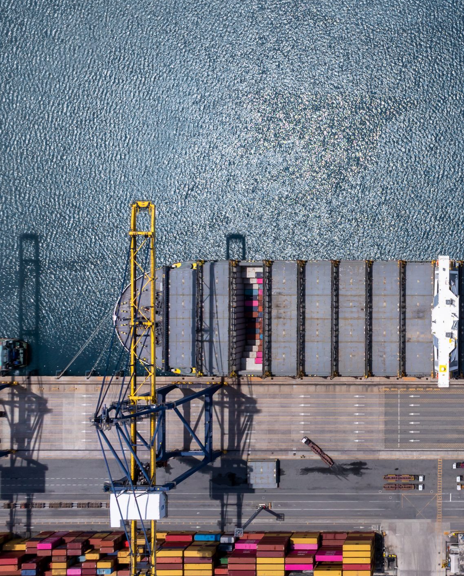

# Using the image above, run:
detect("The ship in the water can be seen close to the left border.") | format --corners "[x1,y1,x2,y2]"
[0,337,37,370]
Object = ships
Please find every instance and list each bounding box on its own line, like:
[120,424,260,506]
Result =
[111,256,464,387]
[0,337,37,370]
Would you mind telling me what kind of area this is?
port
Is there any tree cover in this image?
No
